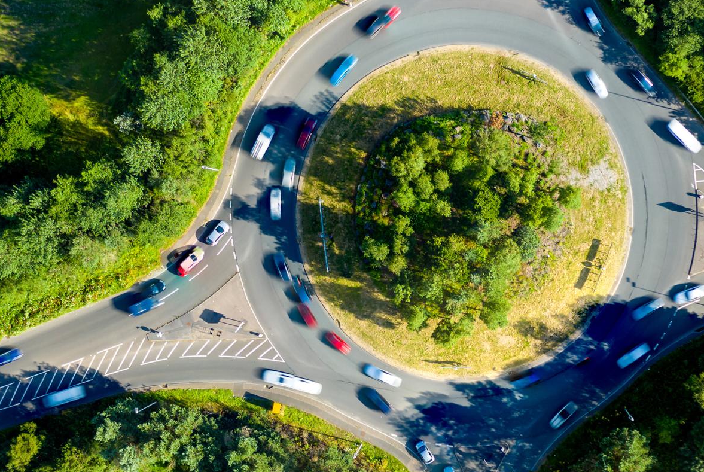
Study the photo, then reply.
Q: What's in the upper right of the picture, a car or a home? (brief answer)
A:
car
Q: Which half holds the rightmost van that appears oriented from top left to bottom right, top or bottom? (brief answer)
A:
top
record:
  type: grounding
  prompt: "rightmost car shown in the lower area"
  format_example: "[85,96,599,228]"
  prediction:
[673,283,704,305]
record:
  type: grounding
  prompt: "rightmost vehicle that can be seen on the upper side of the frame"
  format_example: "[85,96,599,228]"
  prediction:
[667,118,700,154]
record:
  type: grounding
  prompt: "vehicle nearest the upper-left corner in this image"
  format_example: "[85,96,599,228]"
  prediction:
[250,122,277,160]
